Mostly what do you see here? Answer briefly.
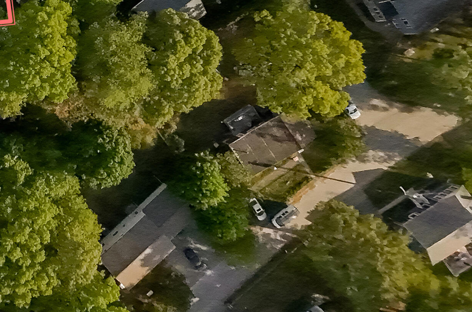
trees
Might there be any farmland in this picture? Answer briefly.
No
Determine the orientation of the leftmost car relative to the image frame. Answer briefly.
diagonally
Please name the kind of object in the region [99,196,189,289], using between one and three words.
house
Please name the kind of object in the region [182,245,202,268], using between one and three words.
car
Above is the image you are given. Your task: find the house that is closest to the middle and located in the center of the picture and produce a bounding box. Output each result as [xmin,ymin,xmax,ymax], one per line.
[222,105,317,174]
